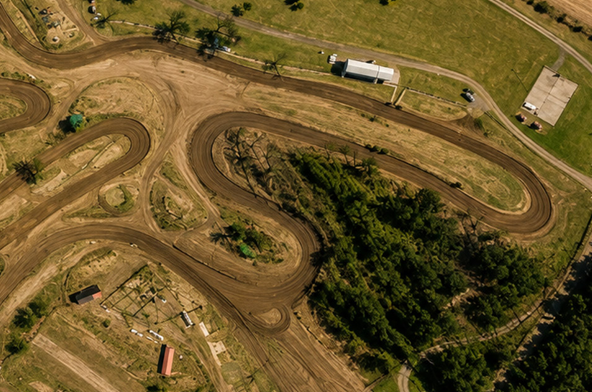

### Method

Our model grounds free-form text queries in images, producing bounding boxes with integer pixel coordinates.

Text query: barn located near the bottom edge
[161,343,174,376]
